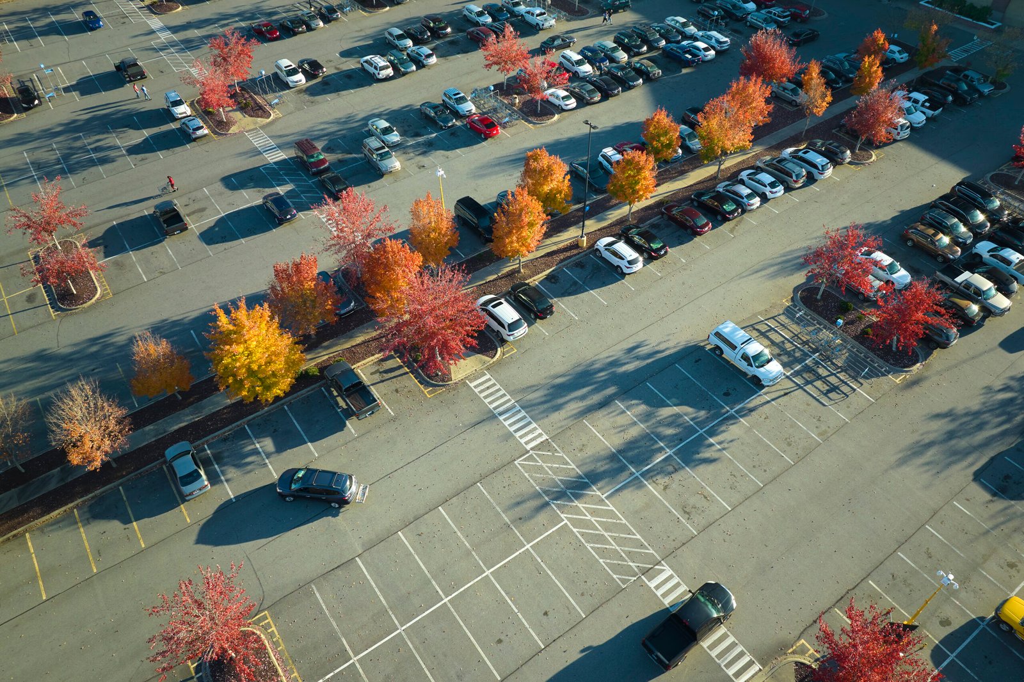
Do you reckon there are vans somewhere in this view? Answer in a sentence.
Yes, there's a van here.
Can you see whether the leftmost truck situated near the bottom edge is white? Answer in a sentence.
No, the leftmost truck situated near the bottom edge is black.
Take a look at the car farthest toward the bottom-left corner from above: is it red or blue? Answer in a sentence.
From above, the car farthest toward the bottom-left corner appears blue.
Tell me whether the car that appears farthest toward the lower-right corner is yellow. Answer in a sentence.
Yes, the car that appears farthest toward the lower-right corner is indeed yellow.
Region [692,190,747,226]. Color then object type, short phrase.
black car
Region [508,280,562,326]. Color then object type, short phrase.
black car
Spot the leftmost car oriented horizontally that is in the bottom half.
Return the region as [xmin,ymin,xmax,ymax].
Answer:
[271,463,360,512]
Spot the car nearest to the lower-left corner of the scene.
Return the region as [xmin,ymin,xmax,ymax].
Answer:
[166,441,216,509]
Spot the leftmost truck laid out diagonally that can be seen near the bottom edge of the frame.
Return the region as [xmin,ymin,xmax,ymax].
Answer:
[639,576,742,674]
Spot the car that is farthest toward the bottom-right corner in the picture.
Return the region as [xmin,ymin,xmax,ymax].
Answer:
[997,594,1024,641]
